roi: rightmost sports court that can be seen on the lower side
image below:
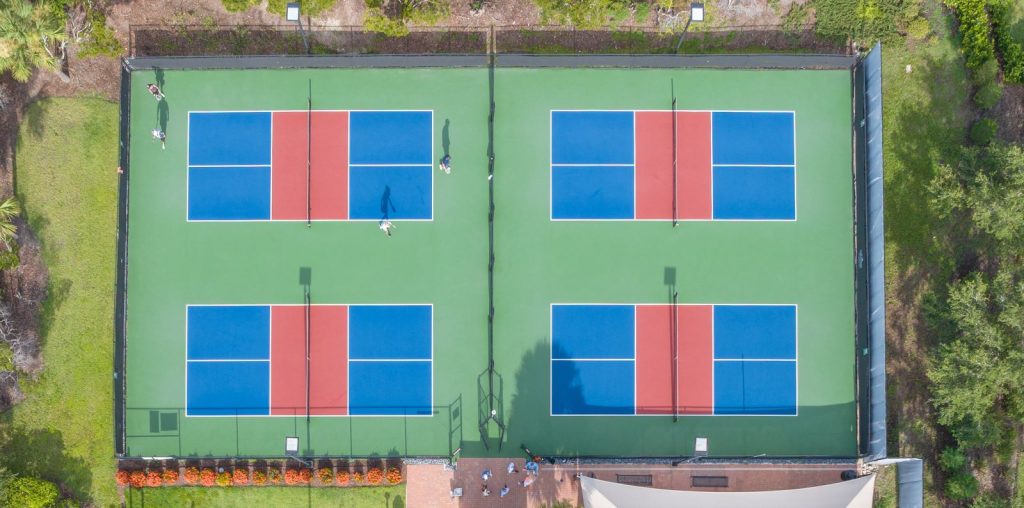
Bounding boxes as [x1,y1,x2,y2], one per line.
[551,304,798,416]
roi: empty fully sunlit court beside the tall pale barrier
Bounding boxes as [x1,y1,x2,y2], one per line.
[551,110,796,220]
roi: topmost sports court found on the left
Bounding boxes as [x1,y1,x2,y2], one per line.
[187,110,433,220]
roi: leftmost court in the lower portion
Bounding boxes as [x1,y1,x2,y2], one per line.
[186,304,433,416]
